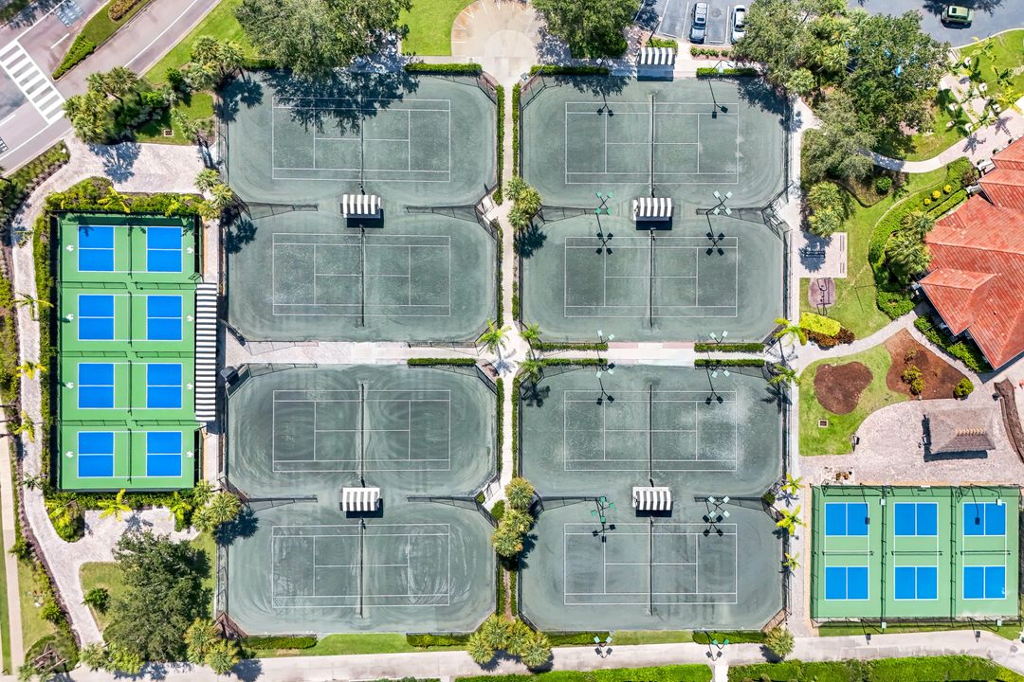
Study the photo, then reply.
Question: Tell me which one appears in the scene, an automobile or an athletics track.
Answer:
automobile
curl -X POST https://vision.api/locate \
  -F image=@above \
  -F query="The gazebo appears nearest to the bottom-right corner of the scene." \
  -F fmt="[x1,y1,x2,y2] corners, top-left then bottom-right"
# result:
[920,408,998,453]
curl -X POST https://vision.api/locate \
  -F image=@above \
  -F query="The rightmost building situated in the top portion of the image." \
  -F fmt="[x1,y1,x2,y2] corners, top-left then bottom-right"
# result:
[916,138,1024,370]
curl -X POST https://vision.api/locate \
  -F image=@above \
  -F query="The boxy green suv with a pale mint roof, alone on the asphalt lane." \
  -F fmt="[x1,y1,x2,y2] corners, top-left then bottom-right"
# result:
[939,7,977,28]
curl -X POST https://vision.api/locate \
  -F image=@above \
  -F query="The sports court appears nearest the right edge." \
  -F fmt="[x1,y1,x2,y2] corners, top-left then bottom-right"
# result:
[953,487,1020,619]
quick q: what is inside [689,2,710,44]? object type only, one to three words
car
